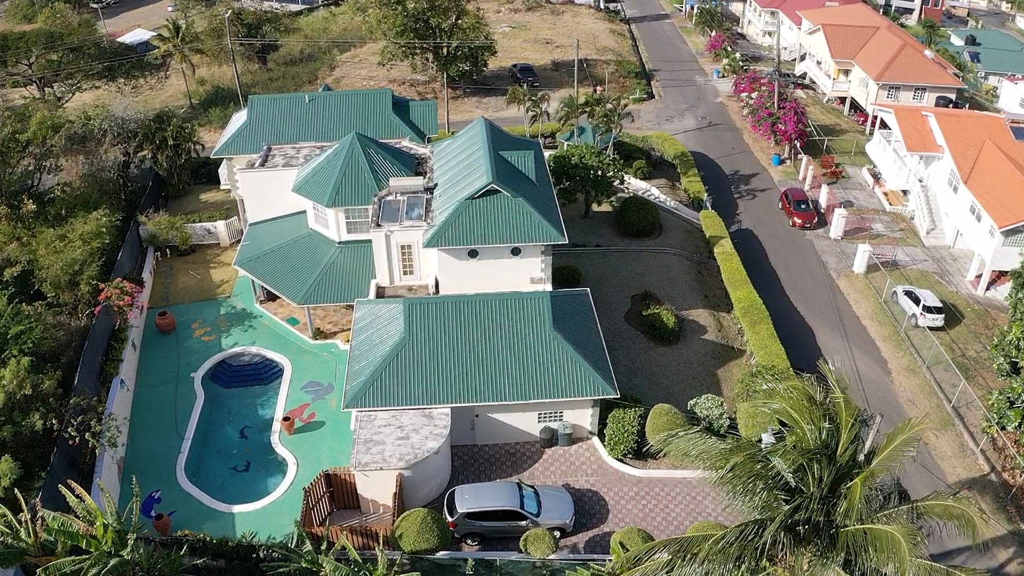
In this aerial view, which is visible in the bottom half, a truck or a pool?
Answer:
pool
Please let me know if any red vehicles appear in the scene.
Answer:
Yes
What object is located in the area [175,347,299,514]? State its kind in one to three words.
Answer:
swimming pool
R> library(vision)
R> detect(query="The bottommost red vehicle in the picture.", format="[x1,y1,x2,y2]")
[778,190,821,230]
